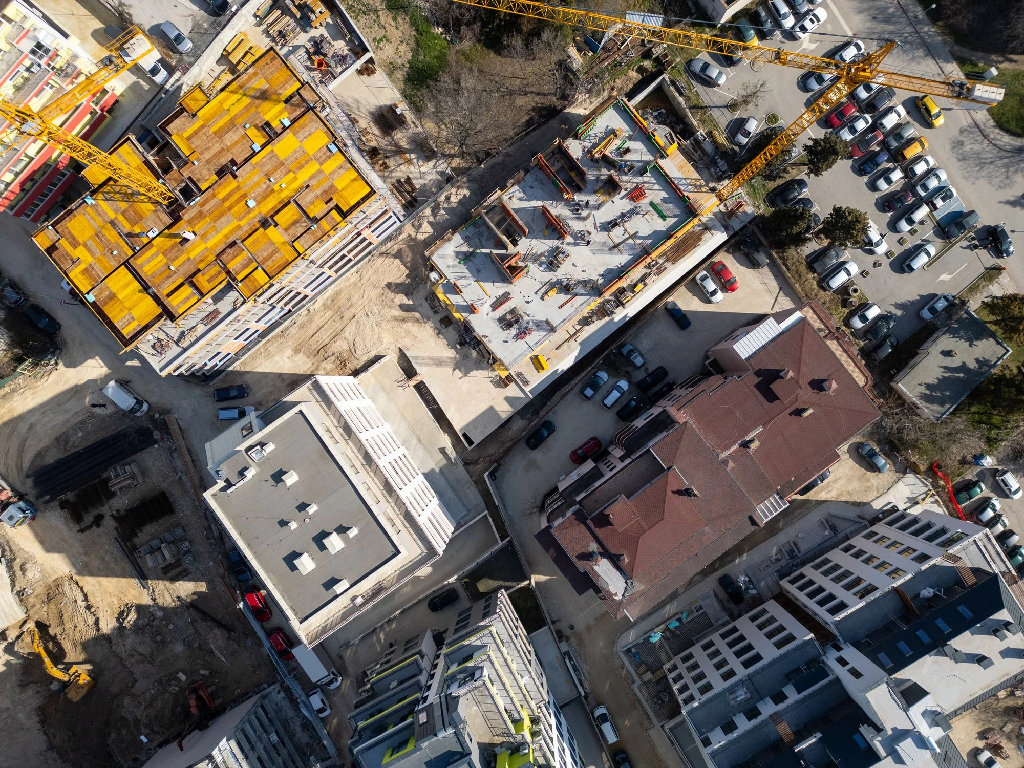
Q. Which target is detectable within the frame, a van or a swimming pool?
van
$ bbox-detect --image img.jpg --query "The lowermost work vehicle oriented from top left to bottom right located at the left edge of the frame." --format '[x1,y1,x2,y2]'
[27,621,97,703]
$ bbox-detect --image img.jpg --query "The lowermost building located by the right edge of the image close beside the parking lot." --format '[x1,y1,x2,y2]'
[659,506,1024,768]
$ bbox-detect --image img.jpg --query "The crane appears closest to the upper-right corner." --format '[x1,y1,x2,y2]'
[450,0,1024,202]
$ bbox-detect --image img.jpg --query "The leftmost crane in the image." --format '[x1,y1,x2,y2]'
[0,25,178,211]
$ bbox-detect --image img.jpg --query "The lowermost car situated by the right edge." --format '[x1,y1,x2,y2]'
[974,748,1001,768]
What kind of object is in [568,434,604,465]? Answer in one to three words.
car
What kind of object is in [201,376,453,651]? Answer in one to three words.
building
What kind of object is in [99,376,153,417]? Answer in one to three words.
van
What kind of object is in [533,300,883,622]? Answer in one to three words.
house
